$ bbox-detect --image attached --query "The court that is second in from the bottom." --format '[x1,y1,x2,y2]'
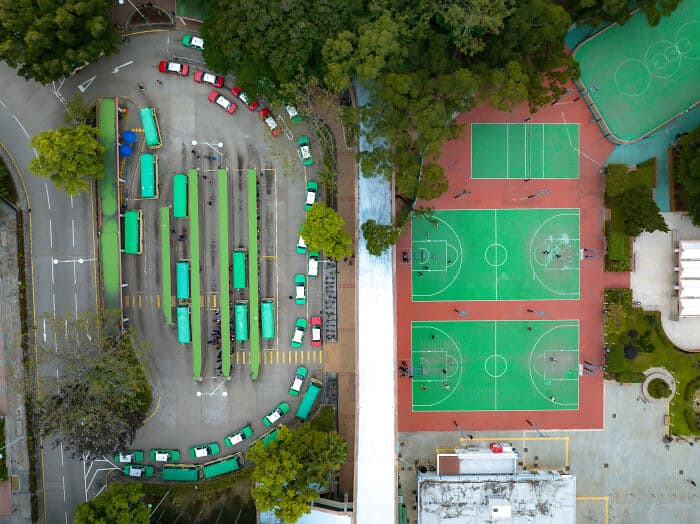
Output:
[412,208,580,301]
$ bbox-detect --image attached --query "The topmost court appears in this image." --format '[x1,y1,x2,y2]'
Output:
[471,123,580,179]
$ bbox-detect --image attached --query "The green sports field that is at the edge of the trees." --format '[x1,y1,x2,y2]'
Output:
[580,0,700,139]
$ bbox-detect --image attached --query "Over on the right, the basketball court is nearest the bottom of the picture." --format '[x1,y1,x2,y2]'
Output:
[412,320,580,411]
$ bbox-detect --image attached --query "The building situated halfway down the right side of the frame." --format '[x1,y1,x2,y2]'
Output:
[664,240,700,318]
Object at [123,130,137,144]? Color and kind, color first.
blue umbrella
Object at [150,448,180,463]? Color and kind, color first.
green car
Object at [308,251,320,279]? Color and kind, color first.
white vehicle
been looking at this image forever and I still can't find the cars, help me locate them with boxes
[294,275,306,304]
[306,182,318,211]
[308,251,320,279]
[232,87,260,112]
[280,97,304,126]
[260,108,282,137]
[291,318,306,348]
[209,92,238,115]
[116,449,146,463]
[289,366,308,397]
[125,462,155,477]
[195,71,225,88]
[224,424,254,447]
[296,225,308,255]
[299,137,314,166]
[310,316,323,346]
[150,448,180,463]
[190,441,221,458]
[262,401,291,426]
[160,61,190,77]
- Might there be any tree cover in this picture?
Yes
